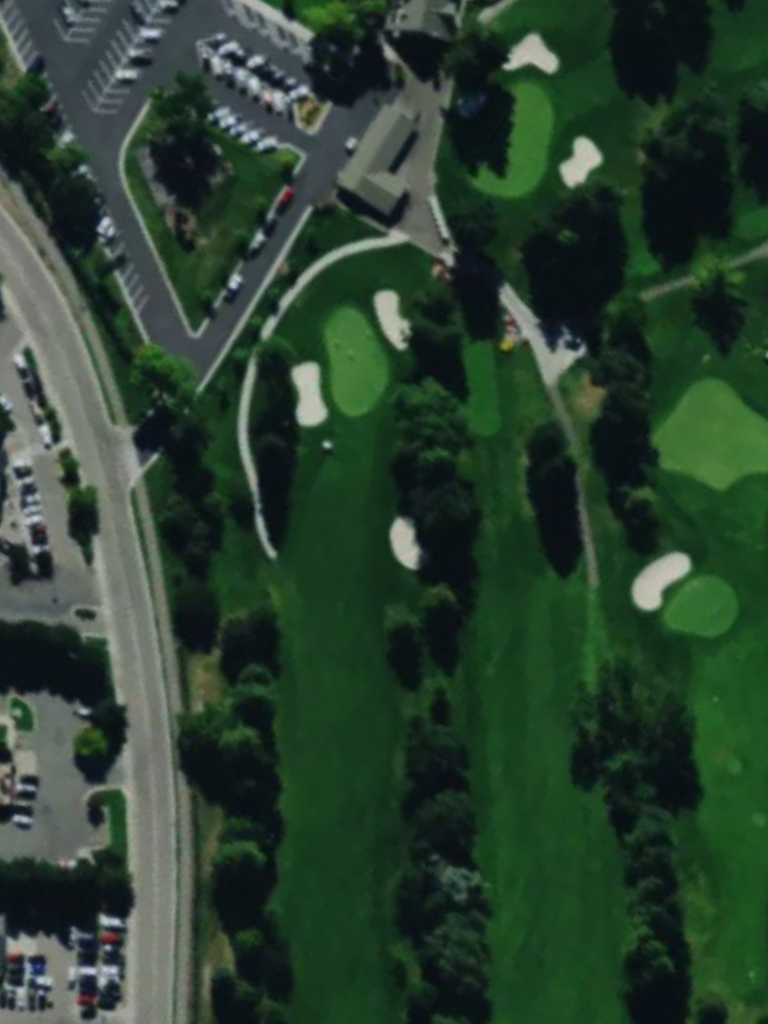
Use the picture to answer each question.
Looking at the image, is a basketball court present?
No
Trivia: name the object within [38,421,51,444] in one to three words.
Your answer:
vehicle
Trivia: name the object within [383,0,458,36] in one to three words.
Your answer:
building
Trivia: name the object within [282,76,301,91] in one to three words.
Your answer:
car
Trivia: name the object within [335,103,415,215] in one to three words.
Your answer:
building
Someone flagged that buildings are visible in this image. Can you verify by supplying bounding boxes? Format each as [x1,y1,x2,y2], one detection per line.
[335,103,415,215]
[383,0,458,36]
